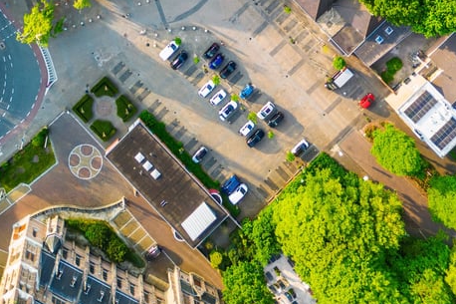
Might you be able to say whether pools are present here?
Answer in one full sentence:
No, the scene contains no pool.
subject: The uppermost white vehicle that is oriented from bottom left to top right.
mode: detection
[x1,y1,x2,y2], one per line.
[159,40,180,62]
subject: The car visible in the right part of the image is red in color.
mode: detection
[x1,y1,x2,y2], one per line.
[357,93,374,109]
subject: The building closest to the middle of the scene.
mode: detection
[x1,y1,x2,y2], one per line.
[105,110,230,249]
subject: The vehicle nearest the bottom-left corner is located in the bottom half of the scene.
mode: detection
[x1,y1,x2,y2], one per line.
[142,240,162,259]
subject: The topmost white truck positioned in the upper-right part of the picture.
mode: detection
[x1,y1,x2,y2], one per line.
[326,66,353,90]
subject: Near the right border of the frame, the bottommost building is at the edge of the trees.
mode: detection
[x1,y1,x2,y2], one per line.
[378,68,456,158]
